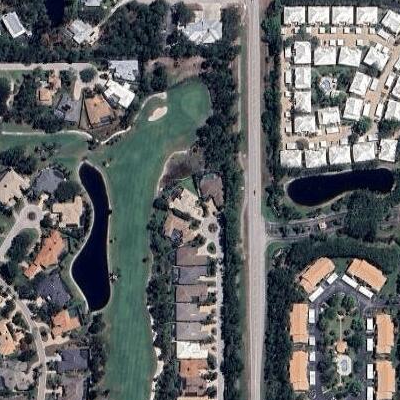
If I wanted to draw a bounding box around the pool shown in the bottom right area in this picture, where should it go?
[337,355,351,375]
